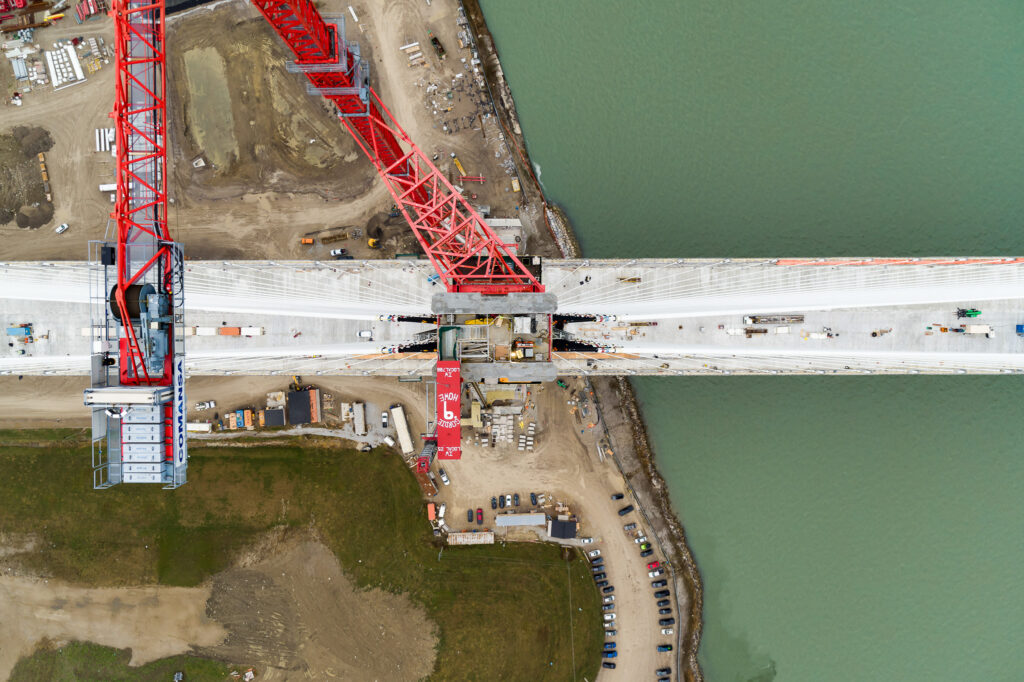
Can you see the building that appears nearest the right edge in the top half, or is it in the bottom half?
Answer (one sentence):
The building that appears nearest the right edge sits in the bottom half of the picture.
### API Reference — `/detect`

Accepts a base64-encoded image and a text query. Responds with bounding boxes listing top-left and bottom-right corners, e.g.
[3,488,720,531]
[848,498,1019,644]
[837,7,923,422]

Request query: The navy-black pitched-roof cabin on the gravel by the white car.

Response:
[550,517,576,538]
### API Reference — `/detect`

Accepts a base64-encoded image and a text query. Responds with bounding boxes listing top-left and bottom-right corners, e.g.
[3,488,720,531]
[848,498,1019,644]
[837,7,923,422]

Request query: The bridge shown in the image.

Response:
[0,242,1024,392]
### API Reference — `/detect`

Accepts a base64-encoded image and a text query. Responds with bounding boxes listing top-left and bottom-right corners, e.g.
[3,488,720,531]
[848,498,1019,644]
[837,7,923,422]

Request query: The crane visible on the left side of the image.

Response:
[84,0,545,489]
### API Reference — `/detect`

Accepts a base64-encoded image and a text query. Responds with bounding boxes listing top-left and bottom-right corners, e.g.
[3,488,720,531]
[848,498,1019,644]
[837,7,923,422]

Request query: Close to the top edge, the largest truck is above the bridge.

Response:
[427,30,449,62]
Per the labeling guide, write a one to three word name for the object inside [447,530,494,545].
building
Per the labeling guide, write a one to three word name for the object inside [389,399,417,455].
trailer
